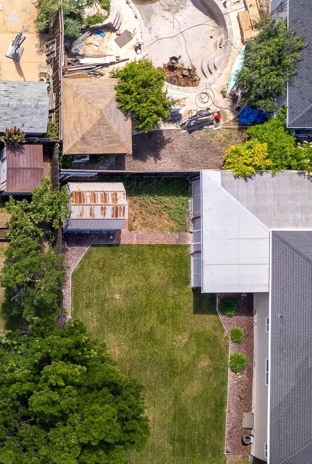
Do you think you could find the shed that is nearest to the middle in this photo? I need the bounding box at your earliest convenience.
[61,183,127,231]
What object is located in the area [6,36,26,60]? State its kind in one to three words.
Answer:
umbrella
